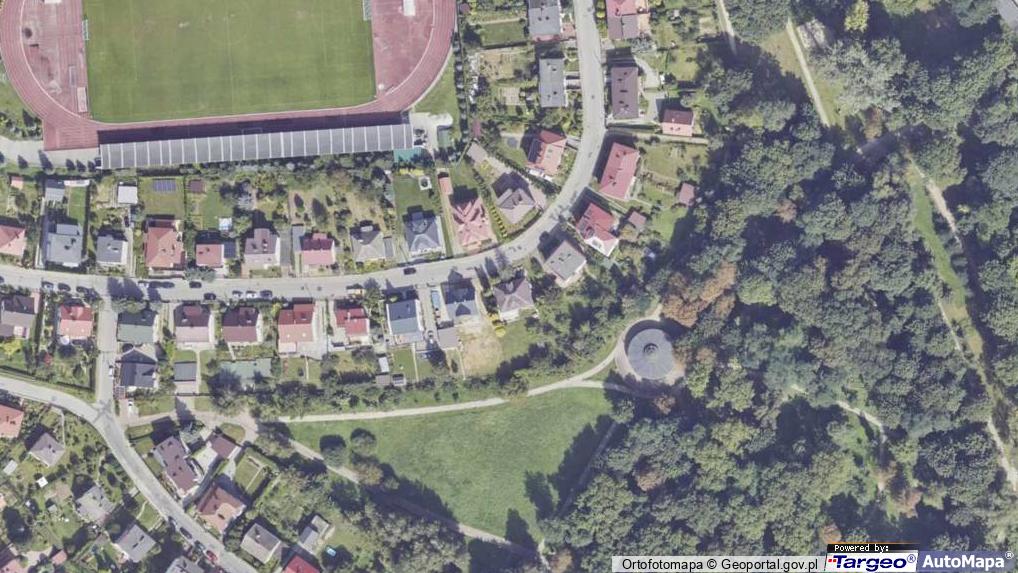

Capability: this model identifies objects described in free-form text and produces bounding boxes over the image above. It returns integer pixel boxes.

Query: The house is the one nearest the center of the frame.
[494,280,532,321]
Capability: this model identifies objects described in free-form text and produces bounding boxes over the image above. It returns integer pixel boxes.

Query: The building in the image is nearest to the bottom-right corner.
[627,329,675,377]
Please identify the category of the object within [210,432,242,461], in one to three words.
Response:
building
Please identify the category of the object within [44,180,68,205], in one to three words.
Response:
shed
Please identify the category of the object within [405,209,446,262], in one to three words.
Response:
house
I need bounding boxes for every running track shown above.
[0,0,459,151]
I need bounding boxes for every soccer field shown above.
[83,0,379,122]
